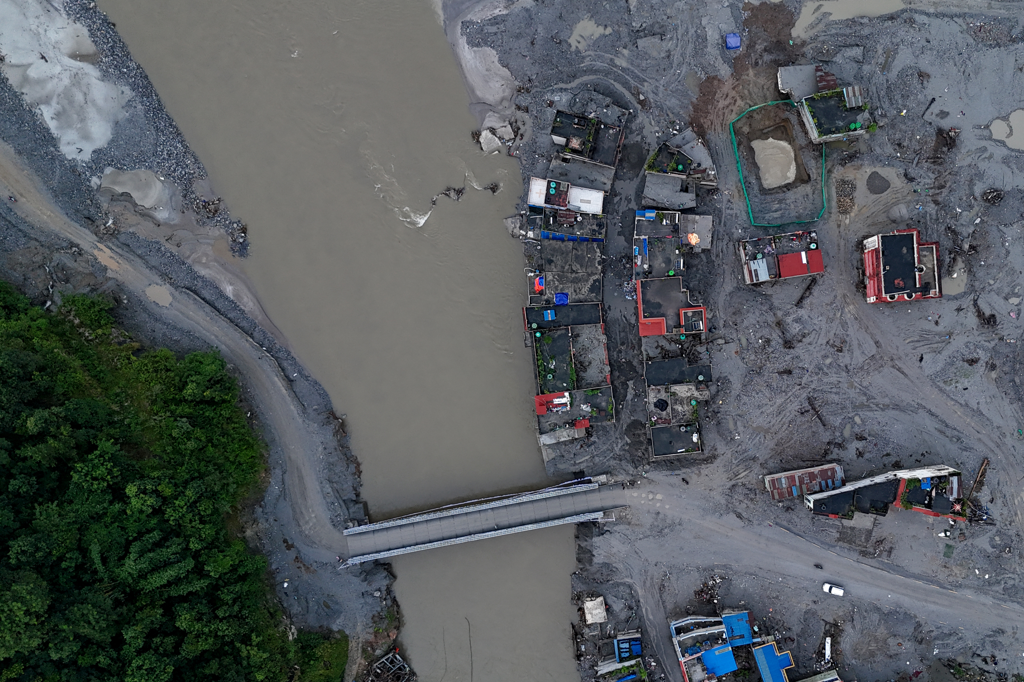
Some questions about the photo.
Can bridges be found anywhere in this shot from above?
Yes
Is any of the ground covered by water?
Yes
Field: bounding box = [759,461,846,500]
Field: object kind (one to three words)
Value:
shed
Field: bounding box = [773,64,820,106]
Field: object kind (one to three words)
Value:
house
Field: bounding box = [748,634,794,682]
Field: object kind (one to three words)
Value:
house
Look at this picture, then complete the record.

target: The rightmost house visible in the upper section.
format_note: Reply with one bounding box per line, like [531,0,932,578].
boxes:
[852,228,943,304]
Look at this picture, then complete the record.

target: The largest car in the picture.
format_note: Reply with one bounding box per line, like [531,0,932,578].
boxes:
[824,584,846,599]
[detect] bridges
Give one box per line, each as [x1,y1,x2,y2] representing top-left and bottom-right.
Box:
[339,480,630,569]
